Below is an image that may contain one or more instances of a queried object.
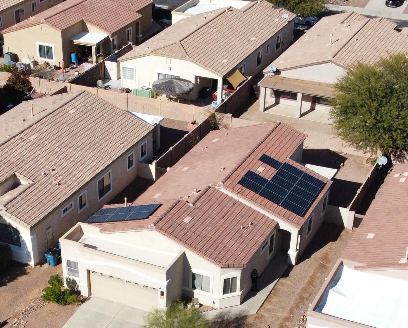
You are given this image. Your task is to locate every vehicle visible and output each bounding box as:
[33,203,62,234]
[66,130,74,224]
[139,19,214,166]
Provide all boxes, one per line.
[385,0,406,8]
[291,9,320,26]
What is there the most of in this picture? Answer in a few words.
buildings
